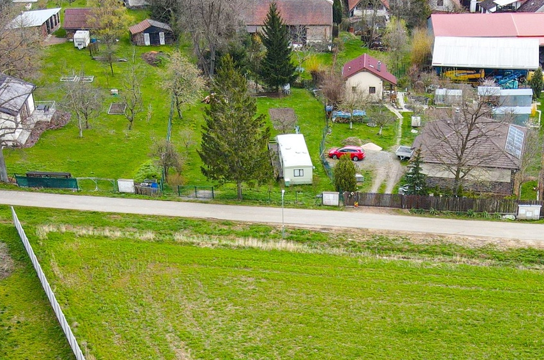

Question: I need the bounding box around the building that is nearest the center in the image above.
[265,129,313,185]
